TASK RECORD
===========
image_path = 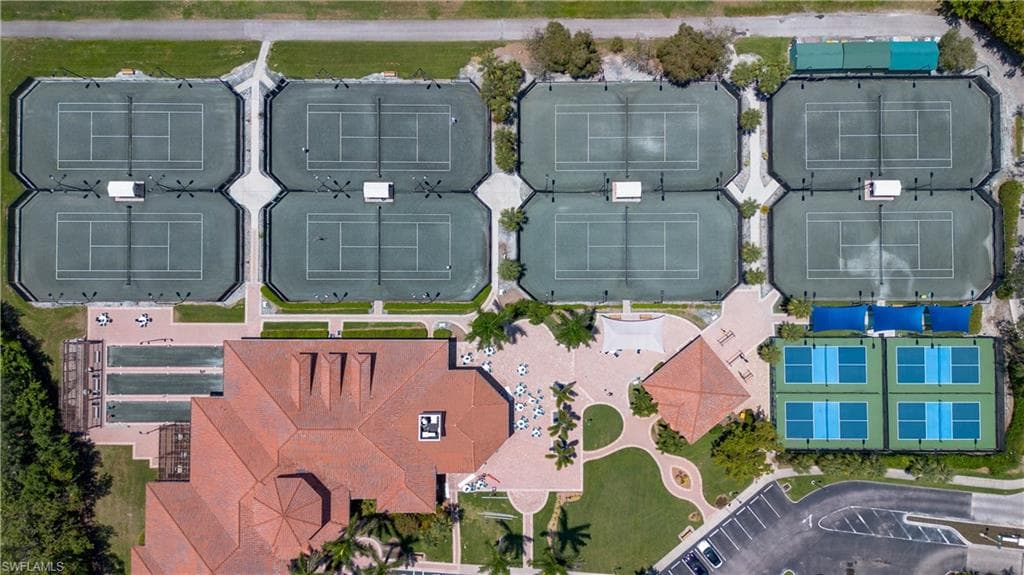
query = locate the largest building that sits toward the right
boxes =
[642,334,751,444]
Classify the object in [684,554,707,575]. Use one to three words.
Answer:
car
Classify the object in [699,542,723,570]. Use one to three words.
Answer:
car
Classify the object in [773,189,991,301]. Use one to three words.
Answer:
tennis court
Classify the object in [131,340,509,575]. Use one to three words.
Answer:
building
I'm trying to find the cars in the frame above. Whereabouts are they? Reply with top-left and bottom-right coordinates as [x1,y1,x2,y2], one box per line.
[684,554,707,575]
[699,542,723,570]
